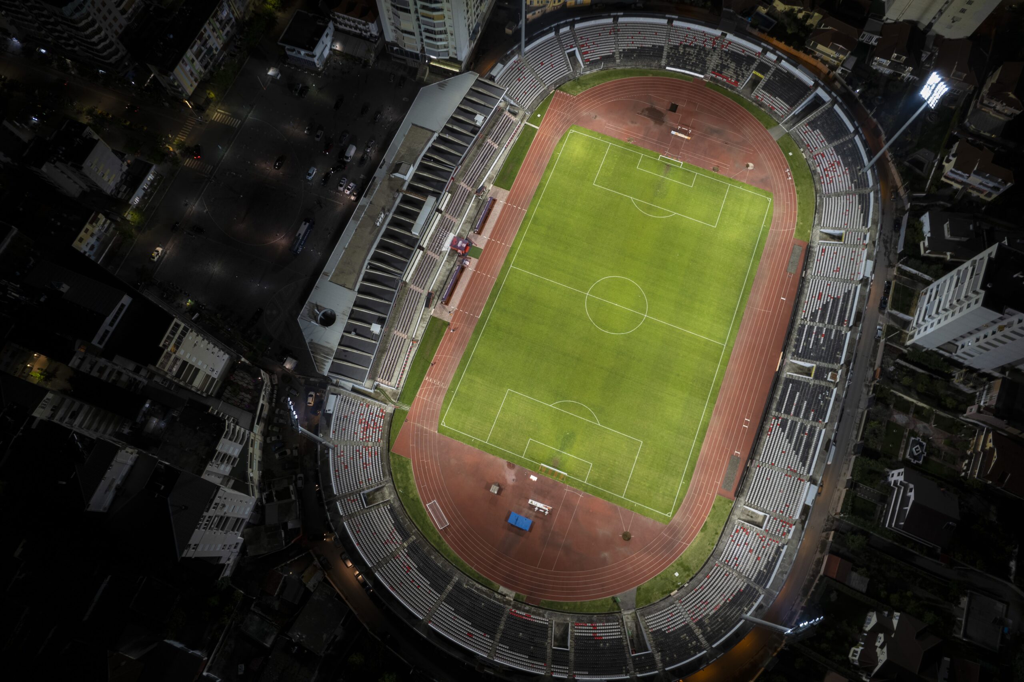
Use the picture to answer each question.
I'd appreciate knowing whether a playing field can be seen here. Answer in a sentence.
Yes, the photo shows a playing field.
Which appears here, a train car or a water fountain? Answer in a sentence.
There is a water fountain in the scene.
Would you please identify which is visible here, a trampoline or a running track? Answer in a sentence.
Of the two, only a running track appears.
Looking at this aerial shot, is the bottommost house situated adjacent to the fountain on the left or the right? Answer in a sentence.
It is on the right.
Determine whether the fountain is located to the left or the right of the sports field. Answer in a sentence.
To the right of the sports field is where the fountain appears.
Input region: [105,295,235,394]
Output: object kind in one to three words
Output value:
building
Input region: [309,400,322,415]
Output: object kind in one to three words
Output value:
vehicle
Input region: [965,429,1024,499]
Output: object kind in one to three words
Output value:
house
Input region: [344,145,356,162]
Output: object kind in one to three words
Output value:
vehicle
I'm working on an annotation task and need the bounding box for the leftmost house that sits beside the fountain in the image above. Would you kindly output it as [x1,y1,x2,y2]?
[888,469,961,548]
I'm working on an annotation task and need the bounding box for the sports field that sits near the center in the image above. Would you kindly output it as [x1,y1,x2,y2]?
[437,124,775,525]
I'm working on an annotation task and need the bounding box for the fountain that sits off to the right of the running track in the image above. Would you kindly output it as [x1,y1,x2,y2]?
[905,435,931,467]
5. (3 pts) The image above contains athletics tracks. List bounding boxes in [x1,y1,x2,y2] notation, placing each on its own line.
[391,75,807,607]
